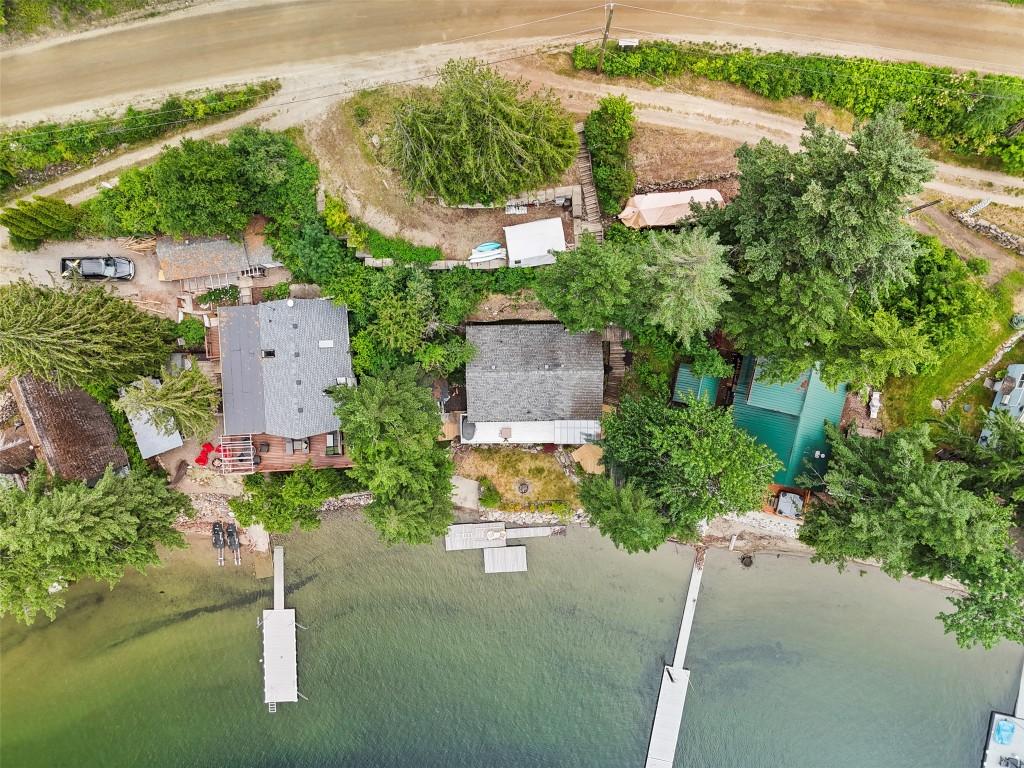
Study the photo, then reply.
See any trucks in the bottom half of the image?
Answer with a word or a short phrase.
No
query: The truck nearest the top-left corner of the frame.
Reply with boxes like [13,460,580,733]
[61,251,134,282]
